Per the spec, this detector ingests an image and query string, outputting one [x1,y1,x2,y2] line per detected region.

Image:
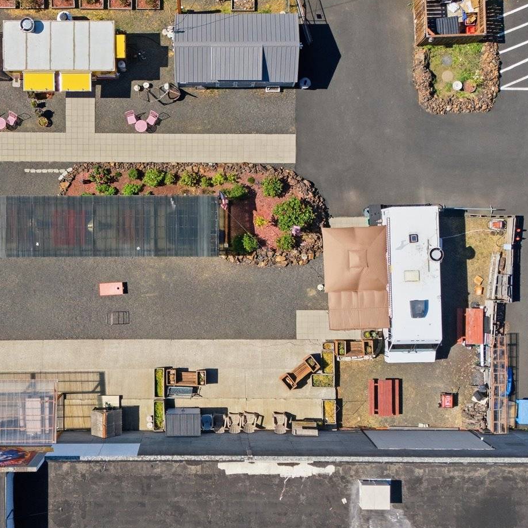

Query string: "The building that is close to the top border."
[173,13,302,88]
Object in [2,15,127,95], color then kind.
white trailer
